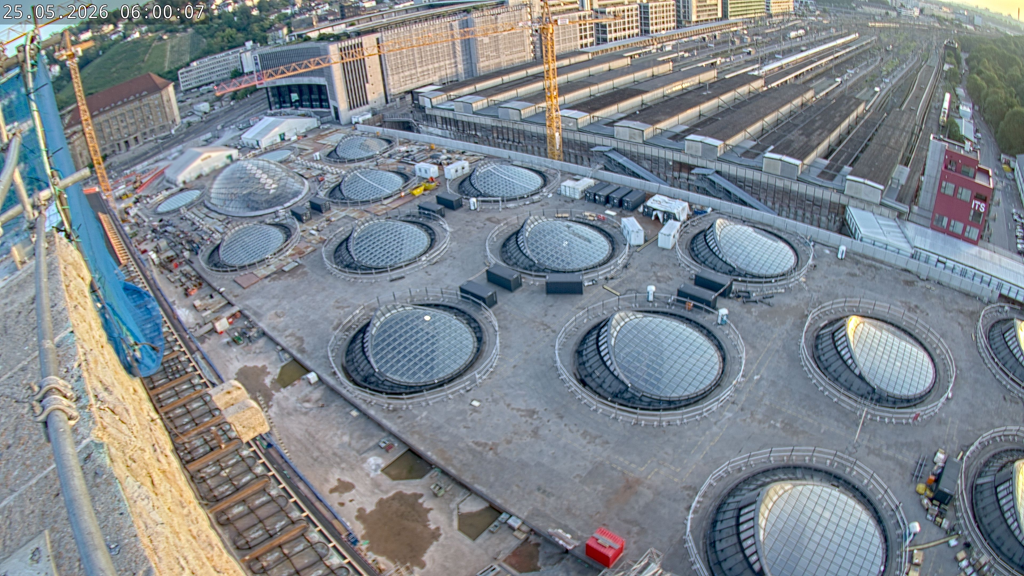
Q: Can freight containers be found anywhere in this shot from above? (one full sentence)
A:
Yes, the photo shows a freight container.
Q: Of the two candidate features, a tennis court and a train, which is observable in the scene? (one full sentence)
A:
This aerial view contains a train.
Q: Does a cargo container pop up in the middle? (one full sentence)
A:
Yes, a cargo container appears in the middle.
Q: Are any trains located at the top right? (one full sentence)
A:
Yes, there is a train at the top right.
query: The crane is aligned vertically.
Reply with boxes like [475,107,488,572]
[63,29,116,206]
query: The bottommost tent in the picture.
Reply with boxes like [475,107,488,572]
[165,142,241,184]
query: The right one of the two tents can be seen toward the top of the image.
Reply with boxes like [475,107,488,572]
[243,113,323,148]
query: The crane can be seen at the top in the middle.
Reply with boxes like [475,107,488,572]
[213,0,615,161]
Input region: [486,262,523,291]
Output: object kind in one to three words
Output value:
shipping container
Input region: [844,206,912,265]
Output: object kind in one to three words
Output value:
building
